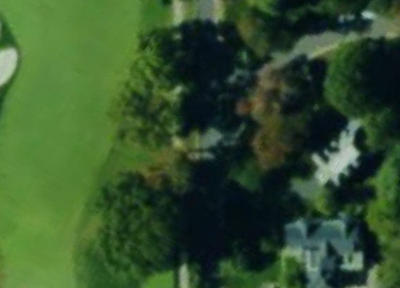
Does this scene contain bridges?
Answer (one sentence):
No, the frame has no bridge in it.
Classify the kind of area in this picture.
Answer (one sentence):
It's a golf course.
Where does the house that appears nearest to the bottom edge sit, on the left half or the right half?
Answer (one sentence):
The house that appears nearest to the bottom edge appears in the right half of the scene.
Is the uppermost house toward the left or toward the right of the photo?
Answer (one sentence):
It is on the right.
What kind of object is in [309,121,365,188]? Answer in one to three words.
house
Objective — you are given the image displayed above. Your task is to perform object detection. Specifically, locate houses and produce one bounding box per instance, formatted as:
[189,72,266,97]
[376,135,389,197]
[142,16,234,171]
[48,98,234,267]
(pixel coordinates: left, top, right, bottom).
[287,219,365,288]
[309,121,365,188]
